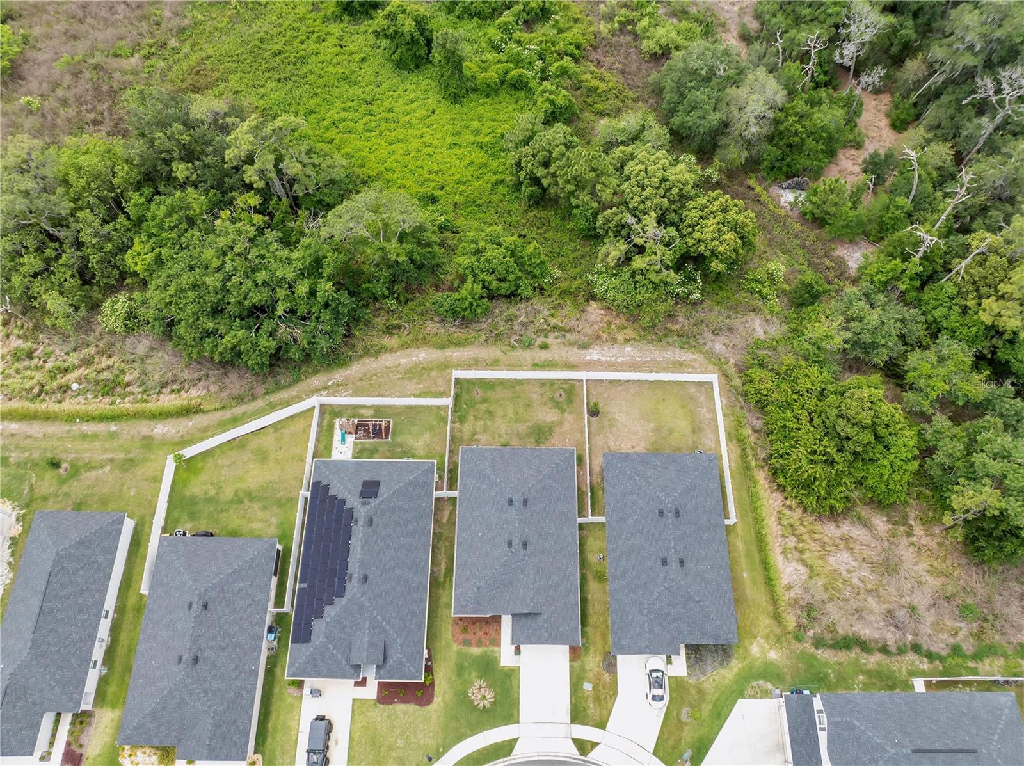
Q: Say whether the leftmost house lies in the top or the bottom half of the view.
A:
bottom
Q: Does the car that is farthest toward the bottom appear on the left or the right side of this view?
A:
left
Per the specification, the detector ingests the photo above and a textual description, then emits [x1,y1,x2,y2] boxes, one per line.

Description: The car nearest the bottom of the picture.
[304,724,335,766]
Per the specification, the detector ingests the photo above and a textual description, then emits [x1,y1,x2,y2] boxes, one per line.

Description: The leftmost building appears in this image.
[0,511,135,757]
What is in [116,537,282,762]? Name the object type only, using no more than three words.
house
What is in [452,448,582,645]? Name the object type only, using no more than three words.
house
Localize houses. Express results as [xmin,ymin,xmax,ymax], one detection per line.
[775,692,1024,766]
[452,448,582,645]
[601,452,739,656]
[284,460,436,679]
[116,537,282,762]
[0,511,135,757]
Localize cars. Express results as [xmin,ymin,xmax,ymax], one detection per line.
[304,724,335,766]
[645,655,669,709]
